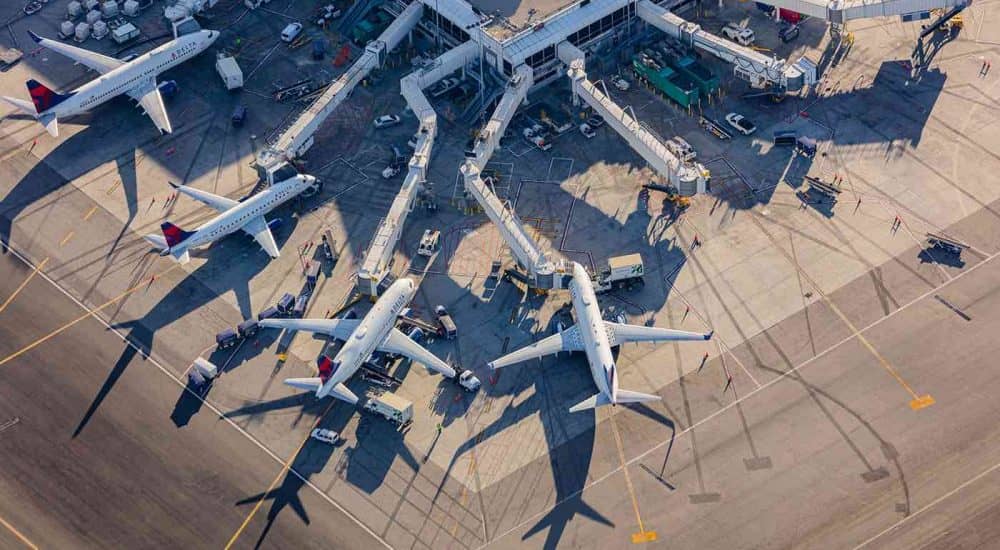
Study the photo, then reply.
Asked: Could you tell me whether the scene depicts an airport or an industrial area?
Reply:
airport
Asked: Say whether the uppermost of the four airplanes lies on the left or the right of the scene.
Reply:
left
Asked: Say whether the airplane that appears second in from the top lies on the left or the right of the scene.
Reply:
left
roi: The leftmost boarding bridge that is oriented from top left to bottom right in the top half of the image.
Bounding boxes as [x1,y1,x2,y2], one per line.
[556,43,709,209]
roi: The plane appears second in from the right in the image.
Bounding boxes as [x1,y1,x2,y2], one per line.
[257,280,459,404]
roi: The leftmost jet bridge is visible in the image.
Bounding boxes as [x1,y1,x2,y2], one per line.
[167,0,239,43]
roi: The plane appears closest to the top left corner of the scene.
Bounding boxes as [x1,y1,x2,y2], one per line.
[4,31,212,136]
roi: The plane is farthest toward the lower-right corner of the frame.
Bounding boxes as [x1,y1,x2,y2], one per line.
[484,267,711,411]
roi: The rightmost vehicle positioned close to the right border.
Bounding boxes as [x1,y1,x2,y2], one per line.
[921,232,975,252]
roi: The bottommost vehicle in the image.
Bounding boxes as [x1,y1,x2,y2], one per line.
[309,427,342,444]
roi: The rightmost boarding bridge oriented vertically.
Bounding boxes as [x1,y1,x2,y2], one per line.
[456,68,570,296]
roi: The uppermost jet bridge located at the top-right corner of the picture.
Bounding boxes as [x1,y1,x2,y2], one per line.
[742,0,978,42]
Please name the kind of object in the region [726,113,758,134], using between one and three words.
vehicle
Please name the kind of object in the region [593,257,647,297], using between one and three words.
truck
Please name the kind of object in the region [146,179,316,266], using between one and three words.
airplane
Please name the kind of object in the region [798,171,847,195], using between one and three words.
work vehicle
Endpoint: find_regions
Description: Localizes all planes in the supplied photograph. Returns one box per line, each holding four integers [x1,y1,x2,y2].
[257,280,459,404]
[484,267,711,411]
[146,179,316,266]
[4,31,212,136]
